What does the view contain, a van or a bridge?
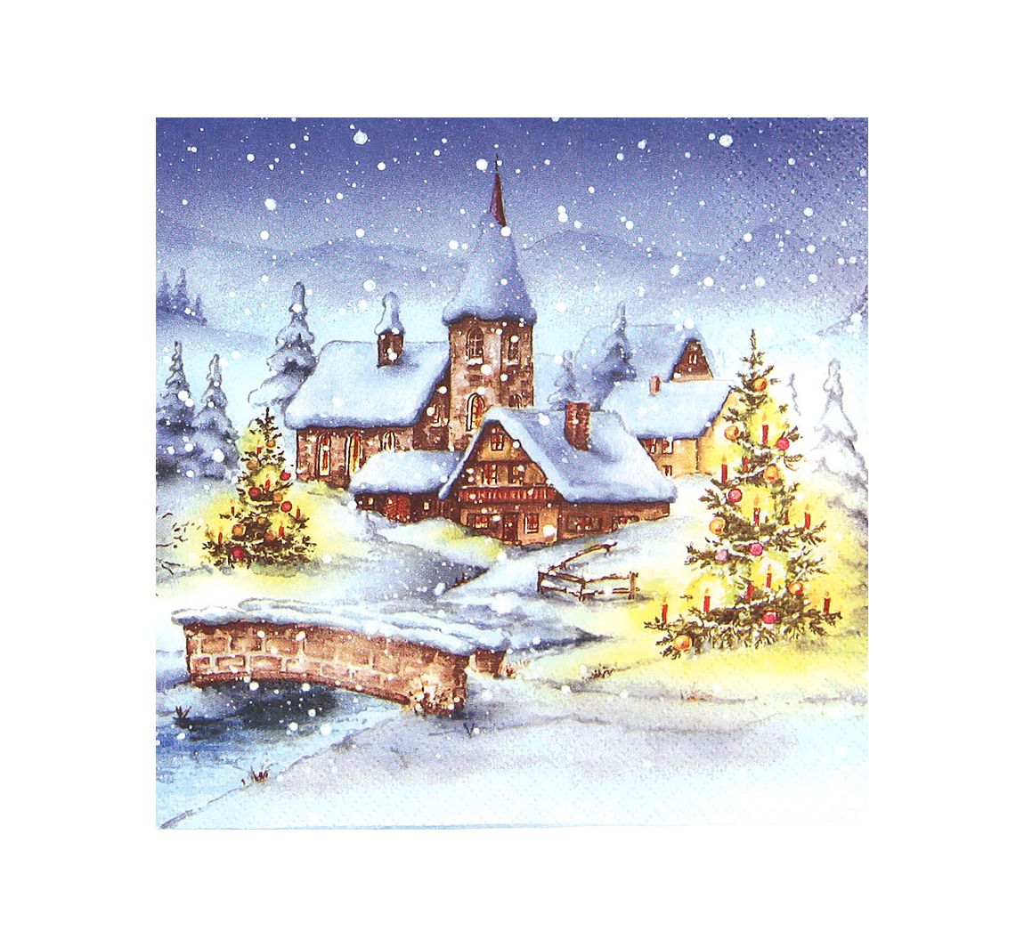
bridge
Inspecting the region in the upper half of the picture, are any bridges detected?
No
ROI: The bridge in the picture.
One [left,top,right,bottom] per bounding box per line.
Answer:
[171,599,511,718]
